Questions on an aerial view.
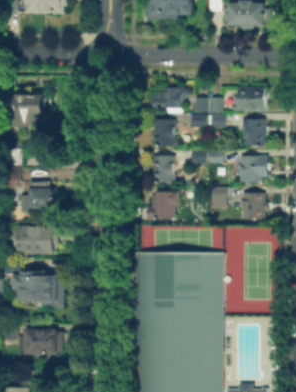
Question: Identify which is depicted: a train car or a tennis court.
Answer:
tennis court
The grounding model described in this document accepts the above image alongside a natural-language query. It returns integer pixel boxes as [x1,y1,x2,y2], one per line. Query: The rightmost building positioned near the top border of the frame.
[227,0,271,29]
